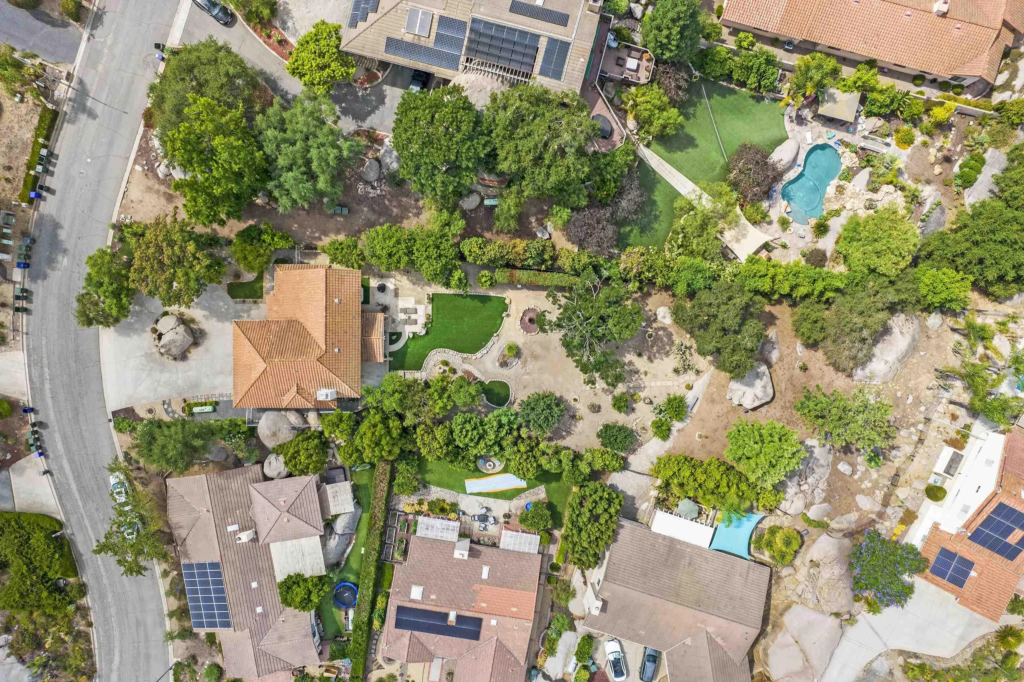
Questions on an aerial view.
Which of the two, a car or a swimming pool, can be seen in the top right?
swimming pool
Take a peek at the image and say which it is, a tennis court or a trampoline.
trampoline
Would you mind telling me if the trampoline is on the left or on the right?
left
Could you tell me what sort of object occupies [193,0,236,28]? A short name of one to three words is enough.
car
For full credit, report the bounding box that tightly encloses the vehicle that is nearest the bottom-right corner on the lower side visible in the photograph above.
[637,646,662,682]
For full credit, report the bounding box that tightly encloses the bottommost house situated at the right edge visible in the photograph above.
[904,402,1024,623]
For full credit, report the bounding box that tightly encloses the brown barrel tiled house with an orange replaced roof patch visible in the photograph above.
[382,535,542,682]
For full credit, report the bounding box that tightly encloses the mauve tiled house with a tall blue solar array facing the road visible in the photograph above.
[167,463,331,682]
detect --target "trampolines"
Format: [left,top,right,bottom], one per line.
[329,580,359,614]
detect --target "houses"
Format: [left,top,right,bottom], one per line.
[167,463,331,682]
[232,264,385,409]
[904,402,1024,623]
[582,517,770,682]
[718,0,1024,91]
[342,0,605,93]
[382,535,542,682]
